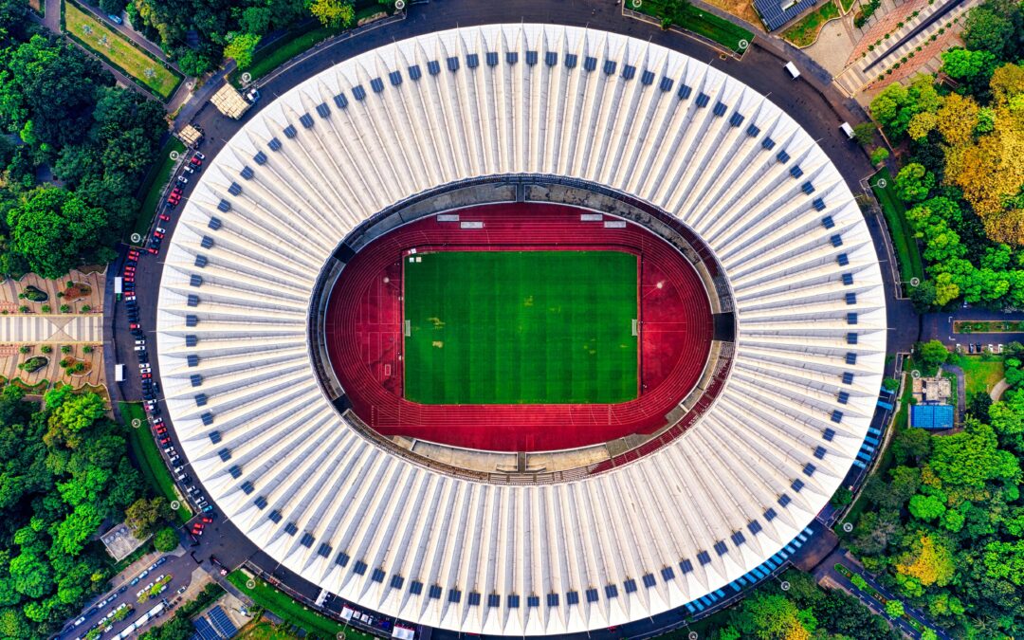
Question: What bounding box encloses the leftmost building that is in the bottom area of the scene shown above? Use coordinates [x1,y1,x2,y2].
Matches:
[99,519,156,562]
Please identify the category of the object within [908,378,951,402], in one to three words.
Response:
building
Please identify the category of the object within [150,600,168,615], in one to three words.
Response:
vehicle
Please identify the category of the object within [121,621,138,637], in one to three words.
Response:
vehicle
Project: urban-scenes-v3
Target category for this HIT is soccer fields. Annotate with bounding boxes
[403,250,640,404]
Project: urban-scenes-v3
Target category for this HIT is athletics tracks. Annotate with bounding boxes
[326,201,712,453]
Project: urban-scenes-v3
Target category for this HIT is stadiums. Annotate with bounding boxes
[156,17,887,640]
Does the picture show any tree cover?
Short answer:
Yes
